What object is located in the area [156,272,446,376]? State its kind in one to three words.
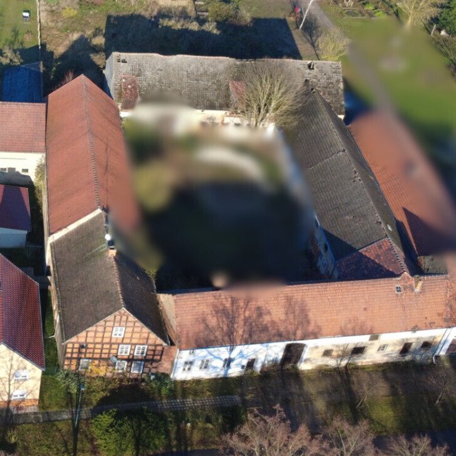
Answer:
house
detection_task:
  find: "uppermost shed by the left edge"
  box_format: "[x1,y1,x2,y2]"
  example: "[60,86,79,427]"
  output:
[1,64,43,104]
